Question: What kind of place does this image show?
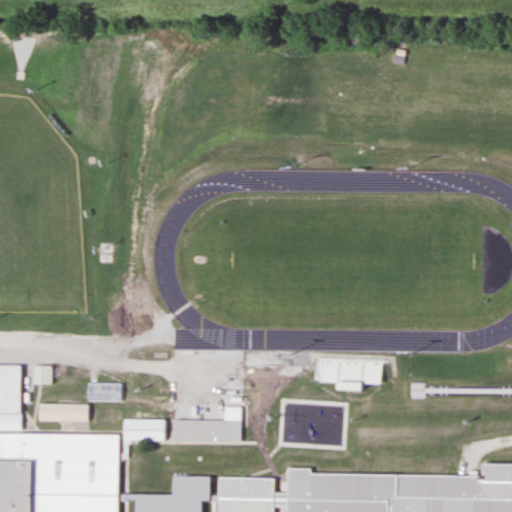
sports ground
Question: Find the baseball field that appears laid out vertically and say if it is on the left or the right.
left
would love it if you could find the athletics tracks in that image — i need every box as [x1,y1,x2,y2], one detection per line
[154,170,512,351]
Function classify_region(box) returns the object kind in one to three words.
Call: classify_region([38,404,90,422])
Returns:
shed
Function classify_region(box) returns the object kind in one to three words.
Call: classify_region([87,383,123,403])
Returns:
greenhouse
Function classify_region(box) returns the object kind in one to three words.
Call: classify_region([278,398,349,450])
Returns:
playground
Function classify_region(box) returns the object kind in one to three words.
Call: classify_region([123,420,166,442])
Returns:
building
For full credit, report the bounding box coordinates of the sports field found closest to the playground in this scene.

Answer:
[176,192,512,329]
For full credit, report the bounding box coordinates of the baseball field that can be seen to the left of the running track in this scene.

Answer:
[0,93,88,314]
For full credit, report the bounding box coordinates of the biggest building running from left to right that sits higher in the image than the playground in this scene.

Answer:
[314,358,383,393]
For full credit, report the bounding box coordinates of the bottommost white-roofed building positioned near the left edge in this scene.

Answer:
[0,434,120,512]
